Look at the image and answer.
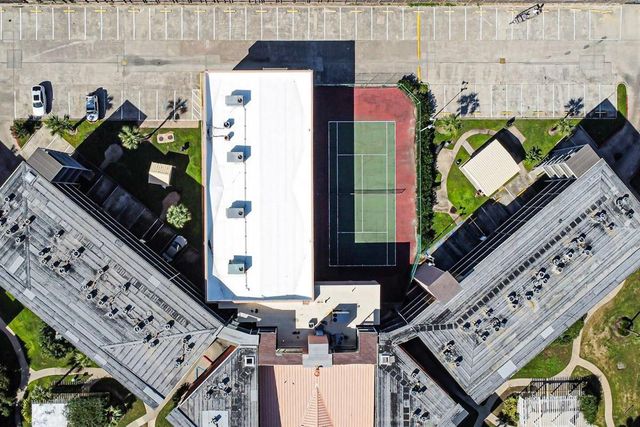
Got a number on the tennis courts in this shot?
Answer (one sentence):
In total, there is 1 tennis court in the scene.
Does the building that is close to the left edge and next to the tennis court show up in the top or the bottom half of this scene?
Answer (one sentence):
You can find the building that is close to the left edge and next to the tennis court in the bottom half.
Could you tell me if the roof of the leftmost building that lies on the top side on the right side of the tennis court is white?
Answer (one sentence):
Yes, white is the color of the roof of the leftmost building that lies on the top side on the right side of the tennis court.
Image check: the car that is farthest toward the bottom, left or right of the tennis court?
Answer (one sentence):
Compared with the tennis court, the car that is farthest toward the bottom is located further to the left.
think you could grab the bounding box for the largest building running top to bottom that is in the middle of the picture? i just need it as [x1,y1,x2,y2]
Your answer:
[203,68,314,303]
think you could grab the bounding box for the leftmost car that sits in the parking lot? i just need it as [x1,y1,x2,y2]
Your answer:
[31,86,46,116]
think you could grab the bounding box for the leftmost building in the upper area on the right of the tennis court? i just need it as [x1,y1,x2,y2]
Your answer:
[458,139,521,198]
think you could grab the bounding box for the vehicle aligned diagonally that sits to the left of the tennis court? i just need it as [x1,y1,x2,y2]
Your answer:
[164,233,188,262]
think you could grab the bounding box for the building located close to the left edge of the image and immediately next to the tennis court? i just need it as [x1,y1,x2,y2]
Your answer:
[0,163,235,409]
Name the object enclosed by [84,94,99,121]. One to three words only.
car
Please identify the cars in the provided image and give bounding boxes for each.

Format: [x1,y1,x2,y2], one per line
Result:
[31,86,46,116]
[84,94,99,121]
[164,233,188,262]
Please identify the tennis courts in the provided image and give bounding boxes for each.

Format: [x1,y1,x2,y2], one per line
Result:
[314,86,417,287]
